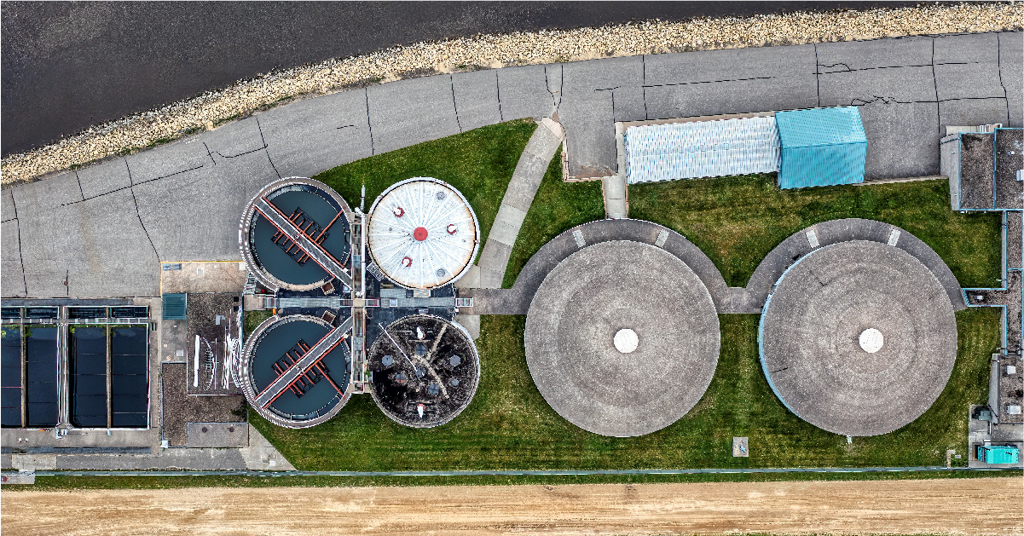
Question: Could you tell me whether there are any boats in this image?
No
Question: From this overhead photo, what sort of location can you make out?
industrial area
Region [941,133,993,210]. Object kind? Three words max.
building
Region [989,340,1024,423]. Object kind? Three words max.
building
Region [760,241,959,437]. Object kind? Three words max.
storage tank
